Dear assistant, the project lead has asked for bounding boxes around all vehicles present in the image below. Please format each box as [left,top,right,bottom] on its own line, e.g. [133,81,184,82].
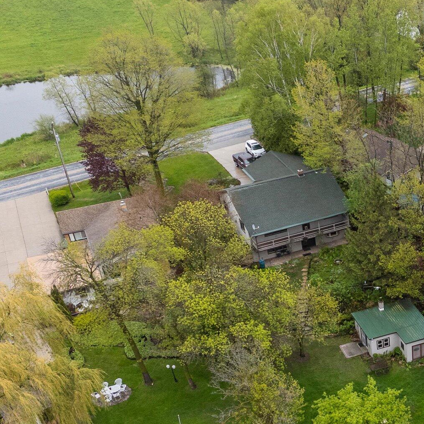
[230,145,253,164]
[246,137,266,154]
